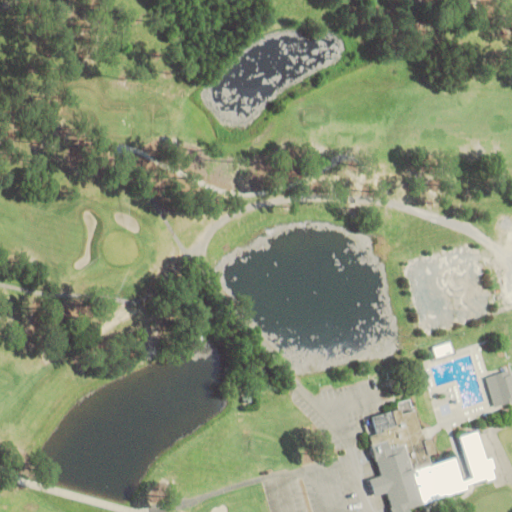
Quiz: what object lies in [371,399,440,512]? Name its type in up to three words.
building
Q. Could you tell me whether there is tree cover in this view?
Yes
